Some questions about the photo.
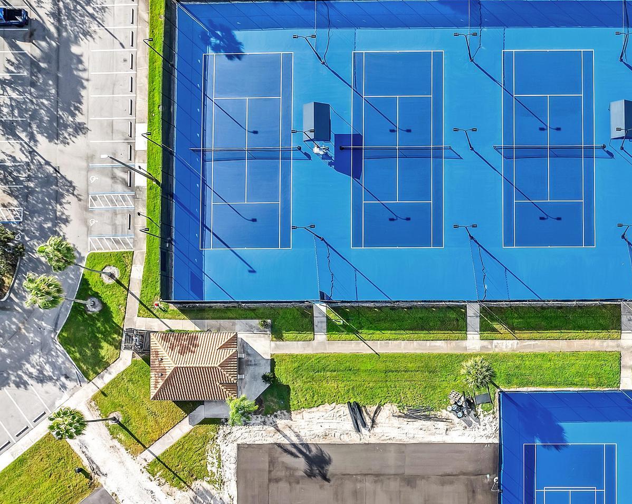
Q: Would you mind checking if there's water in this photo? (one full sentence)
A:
No, water can't be seen anywhere here.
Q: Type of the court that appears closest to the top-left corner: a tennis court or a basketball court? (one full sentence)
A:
The court that appears closest to the top-left corner in the image is a tennis court.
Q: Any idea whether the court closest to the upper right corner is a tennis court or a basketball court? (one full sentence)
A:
The court closest to the upper right corner is a tennis court.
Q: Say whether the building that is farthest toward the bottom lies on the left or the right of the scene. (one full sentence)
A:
The building that is farthest toward the bottom appears in the left half of the scene.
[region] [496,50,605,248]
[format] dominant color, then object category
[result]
blue tennis court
